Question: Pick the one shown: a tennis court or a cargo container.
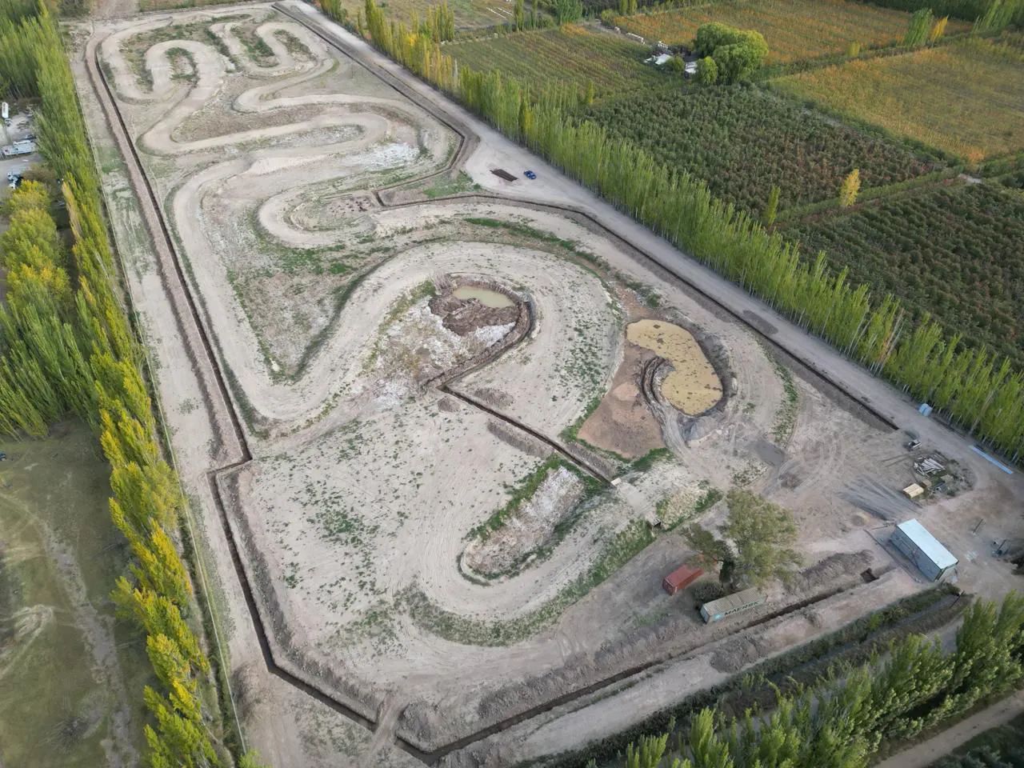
cargo container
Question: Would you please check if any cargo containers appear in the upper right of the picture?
No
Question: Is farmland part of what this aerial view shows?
Yes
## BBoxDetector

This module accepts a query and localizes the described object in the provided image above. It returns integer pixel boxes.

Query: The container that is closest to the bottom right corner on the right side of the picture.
[702,581,768,620]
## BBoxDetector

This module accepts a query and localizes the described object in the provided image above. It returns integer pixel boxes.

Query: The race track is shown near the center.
[99,2,785,627]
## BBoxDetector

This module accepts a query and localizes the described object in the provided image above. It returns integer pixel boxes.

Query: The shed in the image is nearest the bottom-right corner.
[890,519,959,581]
